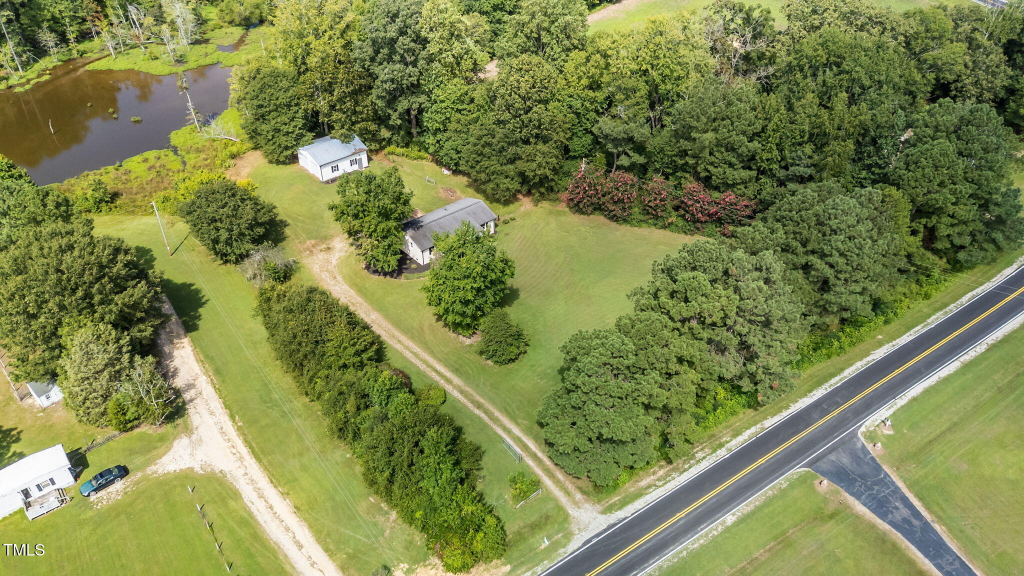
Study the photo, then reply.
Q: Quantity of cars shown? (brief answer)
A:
one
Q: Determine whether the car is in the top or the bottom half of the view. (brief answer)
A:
bottom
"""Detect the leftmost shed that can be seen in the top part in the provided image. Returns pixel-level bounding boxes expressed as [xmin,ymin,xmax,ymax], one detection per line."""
[302,134,369,181]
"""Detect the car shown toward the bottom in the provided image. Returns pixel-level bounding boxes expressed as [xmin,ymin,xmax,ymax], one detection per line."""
[79,465,126,497]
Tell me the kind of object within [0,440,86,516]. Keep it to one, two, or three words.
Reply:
house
